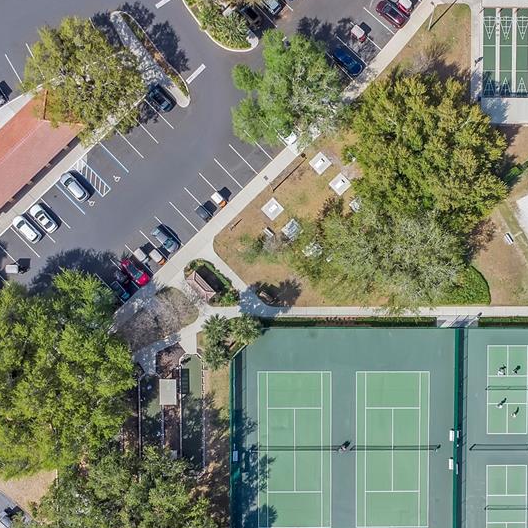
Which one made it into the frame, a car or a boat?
car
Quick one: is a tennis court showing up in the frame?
Yes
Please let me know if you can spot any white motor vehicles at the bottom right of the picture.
No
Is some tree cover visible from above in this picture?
Yes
